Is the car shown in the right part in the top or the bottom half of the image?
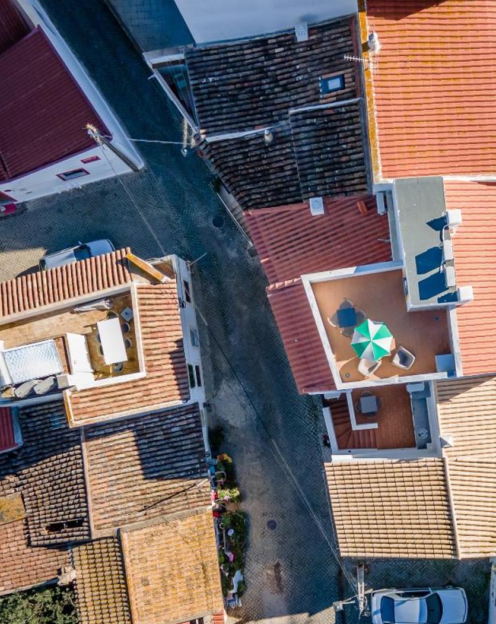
bottom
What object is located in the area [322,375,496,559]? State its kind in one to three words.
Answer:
house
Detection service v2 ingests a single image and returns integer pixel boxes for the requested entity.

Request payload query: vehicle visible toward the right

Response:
[369,581,469,624]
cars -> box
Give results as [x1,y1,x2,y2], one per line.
[369,581,469,624]
[34,234,124,274]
